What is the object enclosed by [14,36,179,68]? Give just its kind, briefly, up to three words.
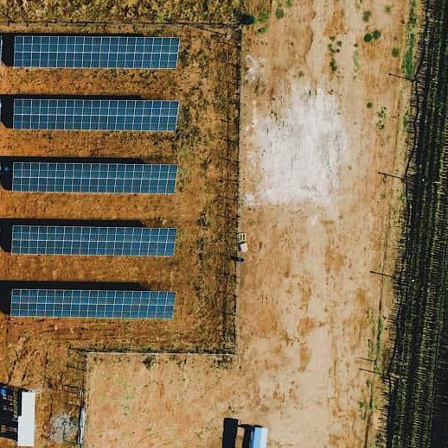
solar array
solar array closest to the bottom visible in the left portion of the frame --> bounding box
[12,289,176,318]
